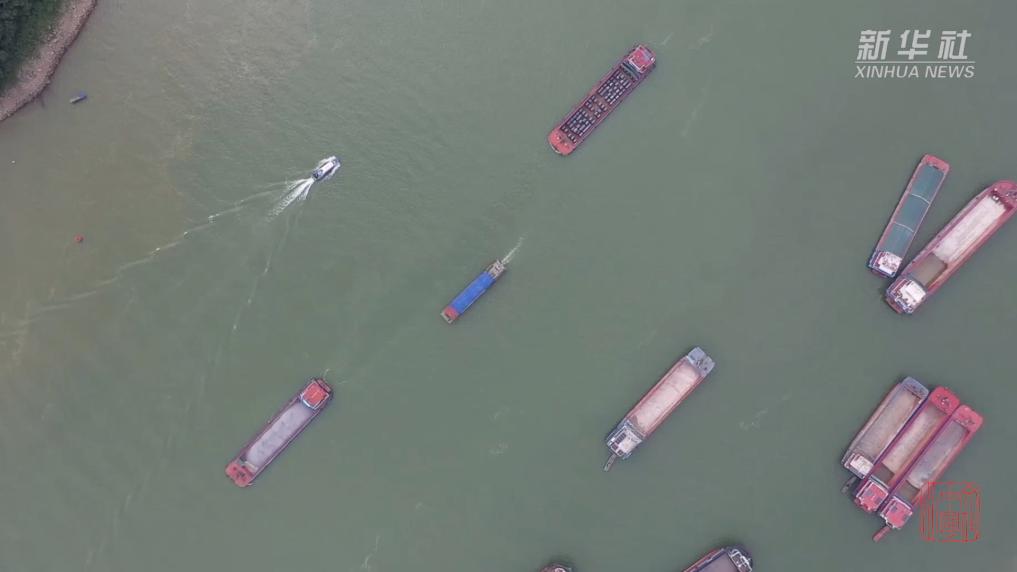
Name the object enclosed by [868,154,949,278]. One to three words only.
ship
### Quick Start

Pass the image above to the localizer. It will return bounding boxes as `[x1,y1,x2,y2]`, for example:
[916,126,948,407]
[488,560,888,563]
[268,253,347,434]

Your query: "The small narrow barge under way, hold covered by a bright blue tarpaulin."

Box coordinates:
[441,259,506,323]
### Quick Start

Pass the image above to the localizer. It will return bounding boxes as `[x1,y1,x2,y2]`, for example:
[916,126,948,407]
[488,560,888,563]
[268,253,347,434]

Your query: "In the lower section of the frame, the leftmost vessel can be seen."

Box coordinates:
[224,377,335,490]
